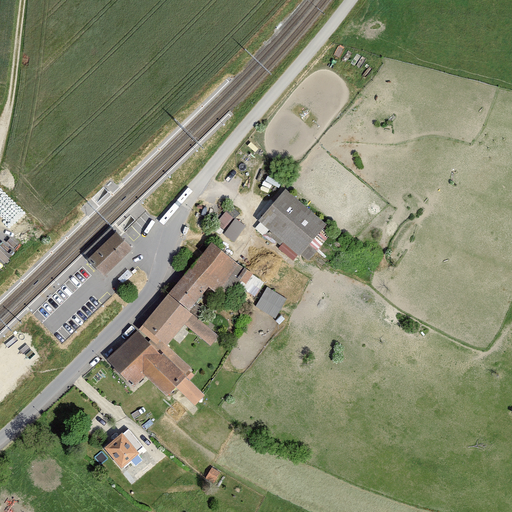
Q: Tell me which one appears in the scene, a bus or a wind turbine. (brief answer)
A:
bus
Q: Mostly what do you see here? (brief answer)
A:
farmland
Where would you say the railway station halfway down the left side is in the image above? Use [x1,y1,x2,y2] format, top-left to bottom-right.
[0,76,232,341]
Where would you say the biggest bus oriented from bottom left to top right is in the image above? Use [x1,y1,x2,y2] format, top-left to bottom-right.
[159,186,194,224]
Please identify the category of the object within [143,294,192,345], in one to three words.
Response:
house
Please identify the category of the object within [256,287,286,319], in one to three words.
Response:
shed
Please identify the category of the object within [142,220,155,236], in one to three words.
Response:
vehicle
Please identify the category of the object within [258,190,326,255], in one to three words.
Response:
barn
